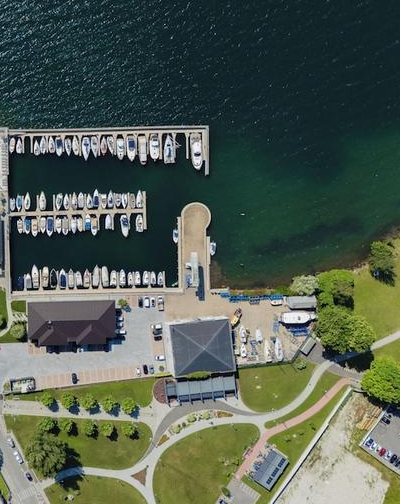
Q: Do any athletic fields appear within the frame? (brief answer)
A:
No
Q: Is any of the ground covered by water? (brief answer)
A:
Yes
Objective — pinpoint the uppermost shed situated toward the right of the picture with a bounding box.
[283,296,316,309]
